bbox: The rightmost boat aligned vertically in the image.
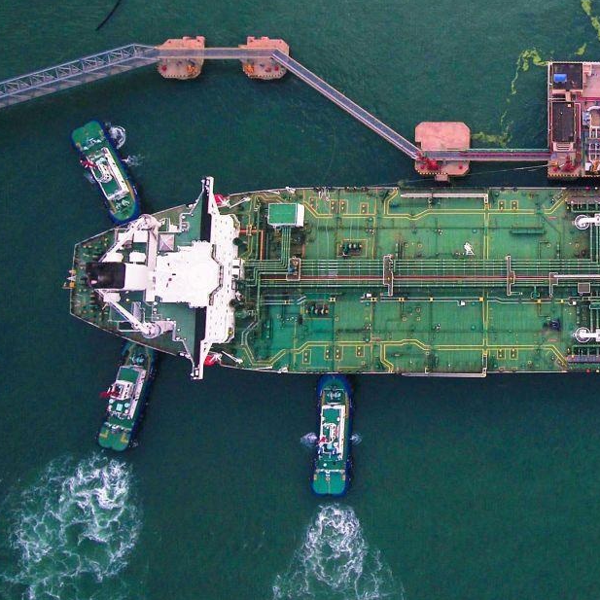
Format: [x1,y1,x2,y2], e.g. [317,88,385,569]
[304,373,355,498]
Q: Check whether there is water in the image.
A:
Yes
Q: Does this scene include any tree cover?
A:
No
